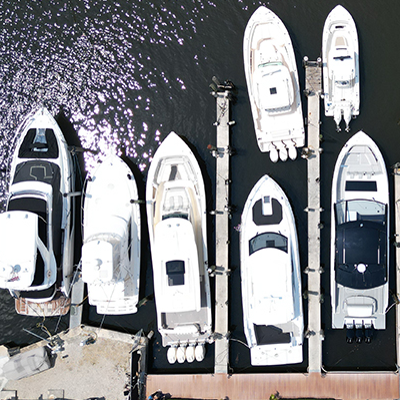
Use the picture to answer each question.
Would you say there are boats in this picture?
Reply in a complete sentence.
Yes, there's a boat here.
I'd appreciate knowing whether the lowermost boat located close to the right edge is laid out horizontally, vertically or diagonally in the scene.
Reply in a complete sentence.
In this picture, the lowermost boat located close to the right edge lies vertically.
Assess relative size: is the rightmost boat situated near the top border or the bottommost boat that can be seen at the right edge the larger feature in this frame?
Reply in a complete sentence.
The bottommost boat that can be seen at the right edge is bigger than the rightmost boat situated near the top border.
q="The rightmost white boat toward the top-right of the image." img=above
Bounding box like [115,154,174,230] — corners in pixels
[322,5,359,134]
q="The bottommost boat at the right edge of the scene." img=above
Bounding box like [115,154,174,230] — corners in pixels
[331,130,390,344]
